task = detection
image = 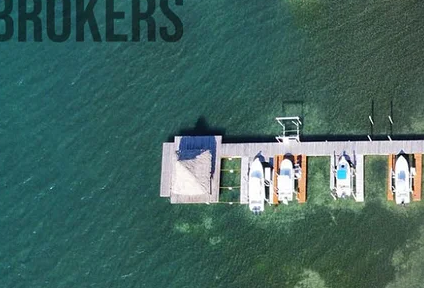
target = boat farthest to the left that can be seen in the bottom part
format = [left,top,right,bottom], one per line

[250,158,265,215]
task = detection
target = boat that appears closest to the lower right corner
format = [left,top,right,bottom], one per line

[395,156,410,207]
